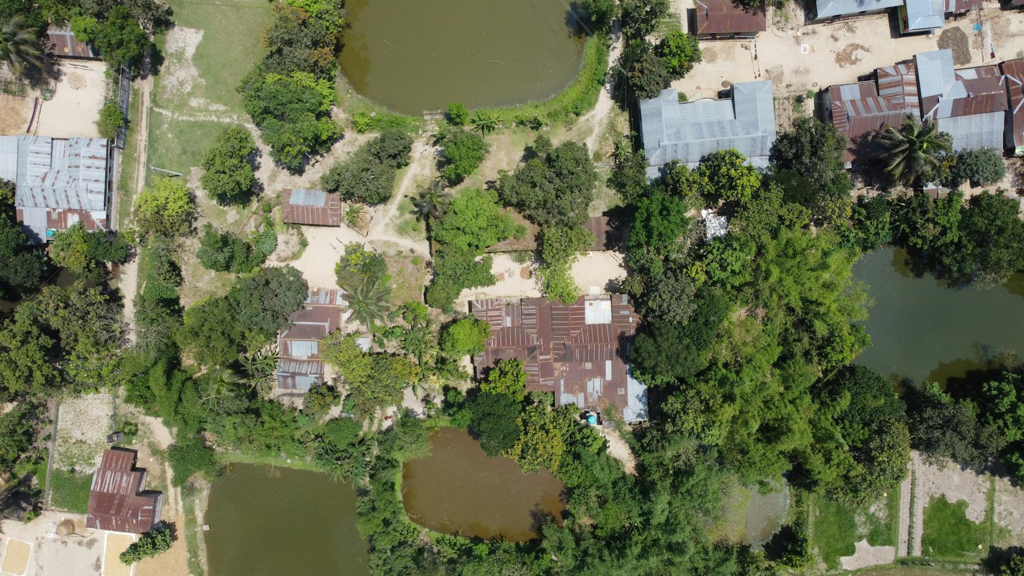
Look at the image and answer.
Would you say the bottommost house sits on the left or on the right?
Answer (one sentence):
The bottommost house is on the left side of the image.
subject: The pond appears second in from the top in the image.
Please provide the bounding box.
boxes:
[851,232,1024,393]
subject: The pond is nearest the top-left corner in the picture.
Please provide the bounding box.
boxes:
[338,0,590,117]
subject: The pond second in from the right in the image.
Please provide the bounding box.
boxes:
[734,476,791,549]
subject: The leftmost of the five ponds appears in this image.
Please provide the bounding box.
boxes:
[206,461,380,576]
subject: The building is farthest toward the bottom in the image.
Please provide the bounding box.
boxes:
[86,448,162,533]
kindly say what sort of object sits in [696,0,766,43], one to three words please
house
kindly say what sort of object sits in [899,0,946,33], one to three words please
house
